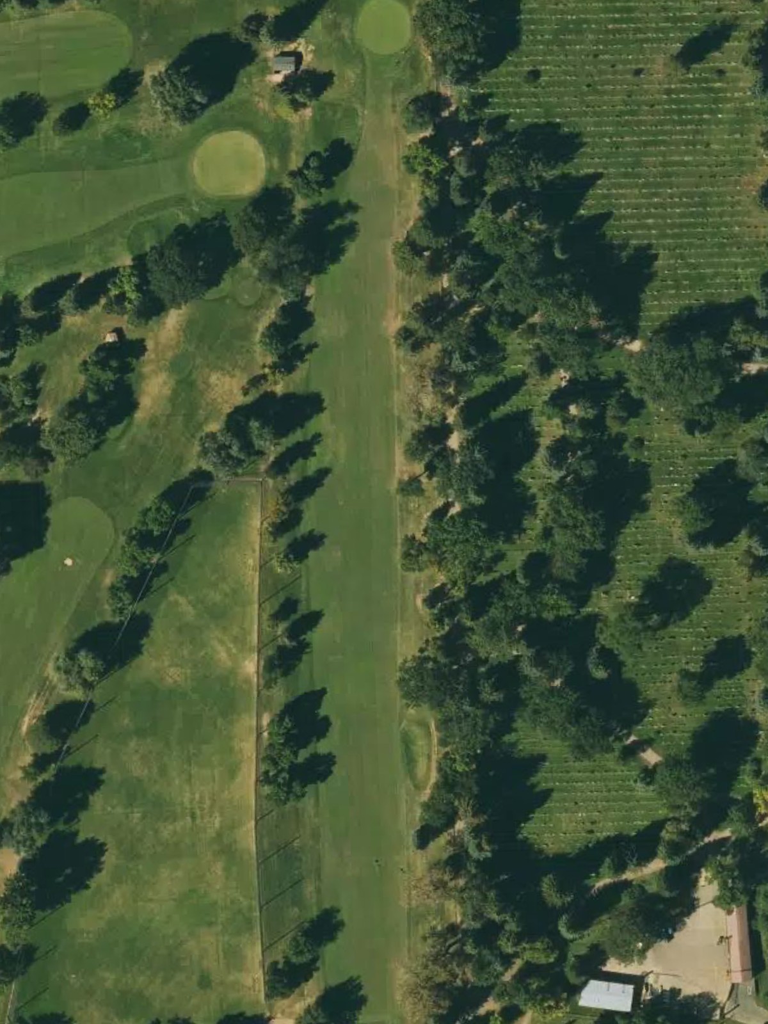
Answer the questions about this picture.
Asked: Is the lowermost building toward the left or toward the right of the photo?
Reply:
right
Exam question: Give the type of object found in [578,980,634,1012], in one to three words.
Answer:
building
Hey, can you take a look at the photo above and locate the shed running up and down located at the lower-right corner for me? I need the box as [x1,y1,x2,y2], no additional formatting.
[727,908,752,984]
